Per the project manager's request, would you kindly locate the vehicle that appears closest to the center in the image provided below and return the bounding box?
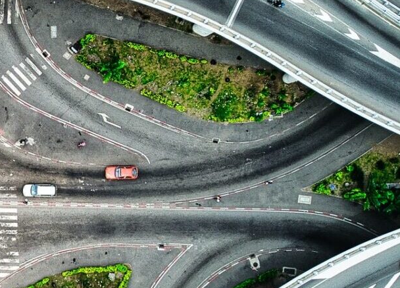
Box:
[106,164,141,179]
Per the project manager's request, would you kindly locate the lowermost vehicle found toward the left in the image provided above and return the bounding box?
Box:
[24,183,58,197]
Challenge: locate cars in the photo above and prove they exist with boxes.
[106,164,141,179]
[24,183,58,197]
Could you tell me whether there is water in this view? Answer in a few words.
No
